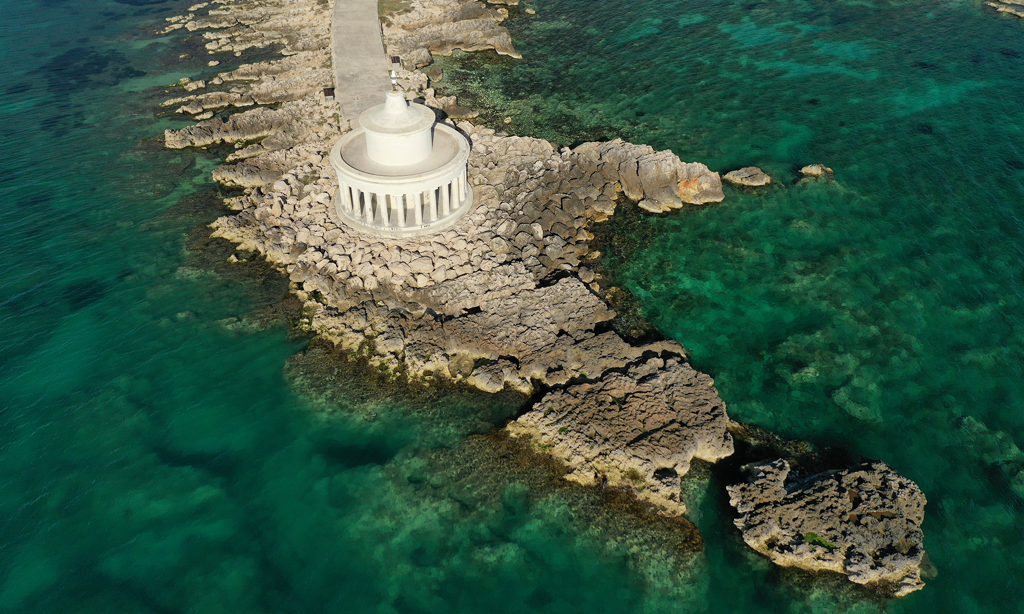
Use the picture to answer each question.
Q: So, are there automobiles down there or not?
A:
No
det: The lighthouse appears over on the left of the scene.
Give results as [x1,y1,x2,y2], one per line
[330,71,473,238]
